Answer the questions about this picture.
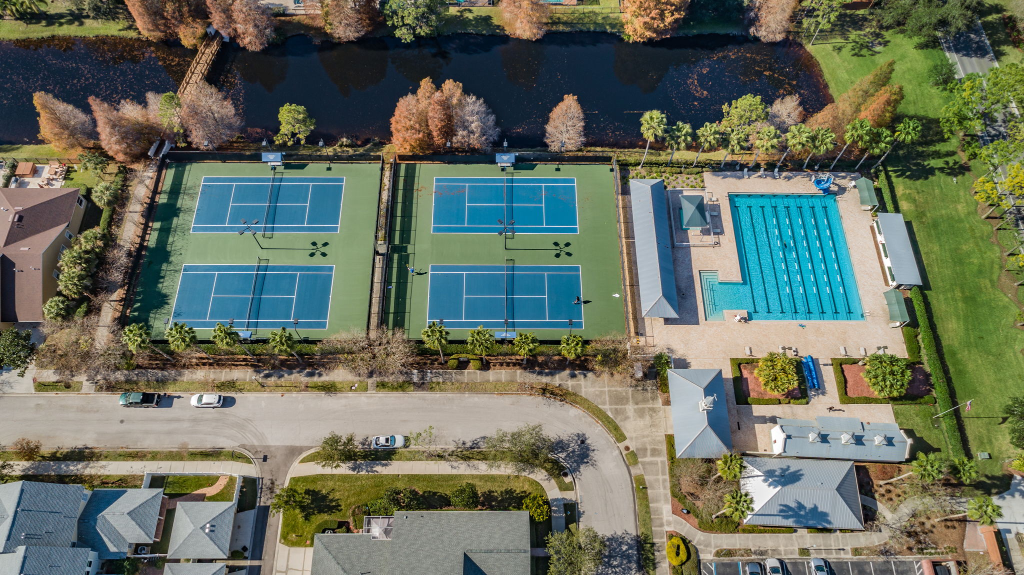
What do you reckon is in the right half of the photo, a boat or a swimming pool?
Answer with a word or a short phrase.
swimming pool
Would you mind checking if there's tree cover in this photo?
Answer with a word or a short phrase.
Yes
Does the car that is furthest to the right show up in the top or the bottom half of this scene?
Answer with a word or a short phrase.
bottom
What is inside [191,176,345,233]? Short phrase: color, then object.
blue tennis court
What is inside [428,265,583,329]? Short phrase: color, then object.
blue tennis court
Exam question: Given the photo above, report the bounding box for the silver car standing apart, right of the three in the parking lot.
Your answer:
[813,554,833,575]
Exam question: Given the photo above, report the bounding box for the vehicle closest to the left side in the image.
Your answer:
[117,392,161,408]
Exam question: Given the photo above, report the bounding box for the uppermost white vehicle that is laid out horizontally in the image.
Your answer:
[190,393,223,409]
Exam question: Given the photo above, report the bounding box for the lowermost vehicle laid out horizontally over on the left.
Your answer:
[372,434,407,450]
